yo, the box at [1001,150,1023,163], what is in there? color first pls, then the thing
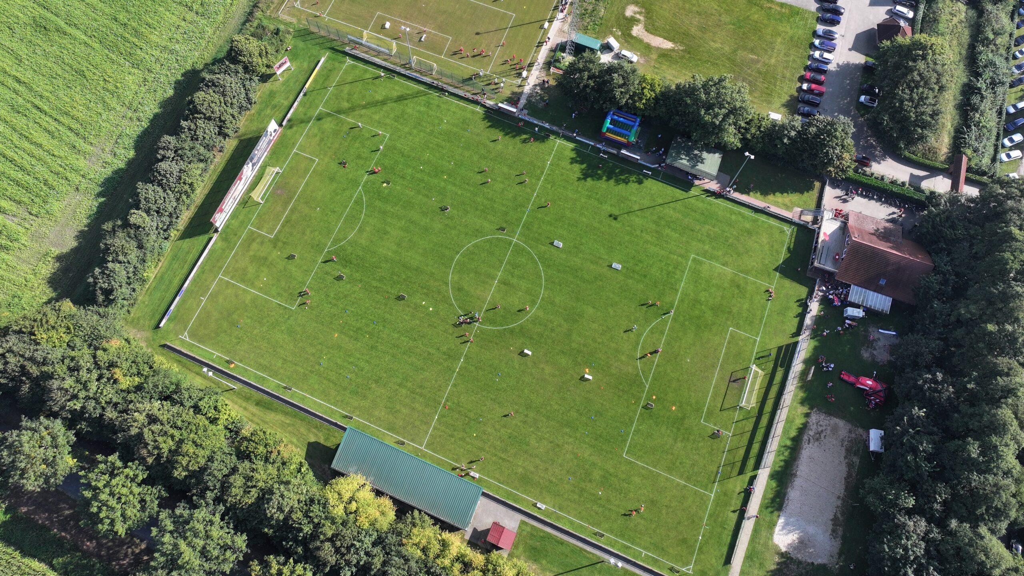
white vehicle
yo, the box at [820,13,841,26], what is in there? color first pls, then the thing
blue vehicle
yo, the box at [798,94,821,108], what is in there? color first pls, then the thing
black car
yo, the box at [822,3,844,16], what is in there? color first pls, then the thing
black vehicle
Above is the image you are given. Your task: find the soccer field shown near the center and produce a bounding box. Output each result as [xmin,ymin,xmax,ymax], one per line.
[157,47,815,576]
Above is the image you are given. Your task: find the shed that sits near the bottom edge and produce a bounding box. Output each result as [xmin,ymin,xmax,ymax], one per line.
[486,522,517,552]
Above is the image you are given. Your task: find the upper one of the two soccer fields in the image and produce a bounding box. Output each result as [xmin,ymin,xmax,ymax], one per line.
[282,0,559,99]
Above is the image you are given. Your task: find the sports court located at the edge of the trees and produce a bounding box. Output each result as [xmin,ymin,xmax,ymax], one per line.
[760,398,875,576]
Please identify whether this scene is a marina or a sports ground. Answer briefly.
sports ground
